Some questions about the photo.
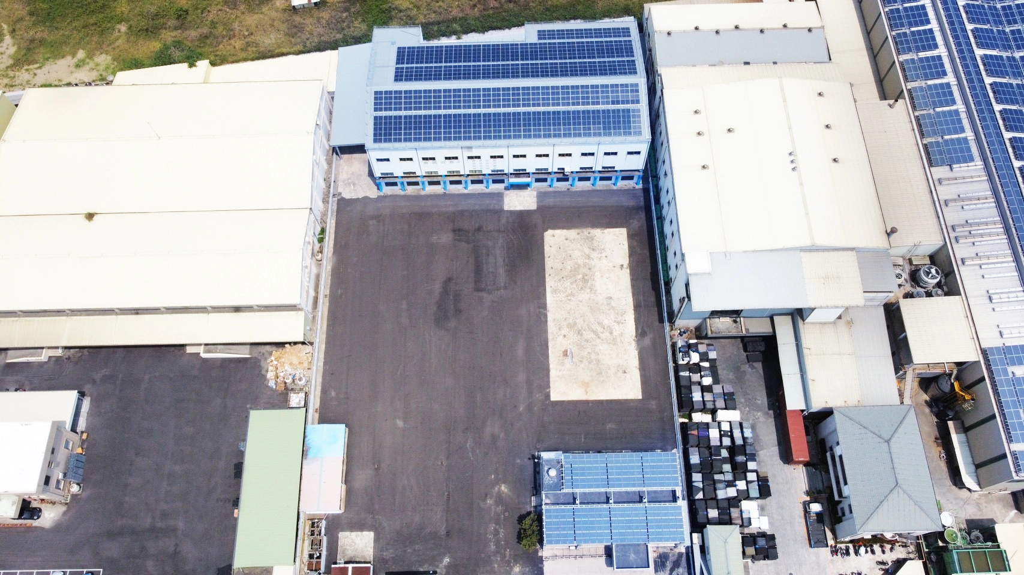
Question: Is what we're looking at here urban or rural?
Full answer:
The land in this view is best described as urban.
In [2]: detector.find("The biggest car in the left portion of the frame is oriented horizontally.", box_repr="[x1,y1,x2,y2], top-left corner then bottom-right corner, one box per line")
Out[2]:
[14,506,48,521]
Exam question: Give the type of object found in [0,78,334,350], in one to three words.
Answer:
warehouse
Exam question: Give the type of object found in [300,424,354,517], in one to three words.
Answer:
shed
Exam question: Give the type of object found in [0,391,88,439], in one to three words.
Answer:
building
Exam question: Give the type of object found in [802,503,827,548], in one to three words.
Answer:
truck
